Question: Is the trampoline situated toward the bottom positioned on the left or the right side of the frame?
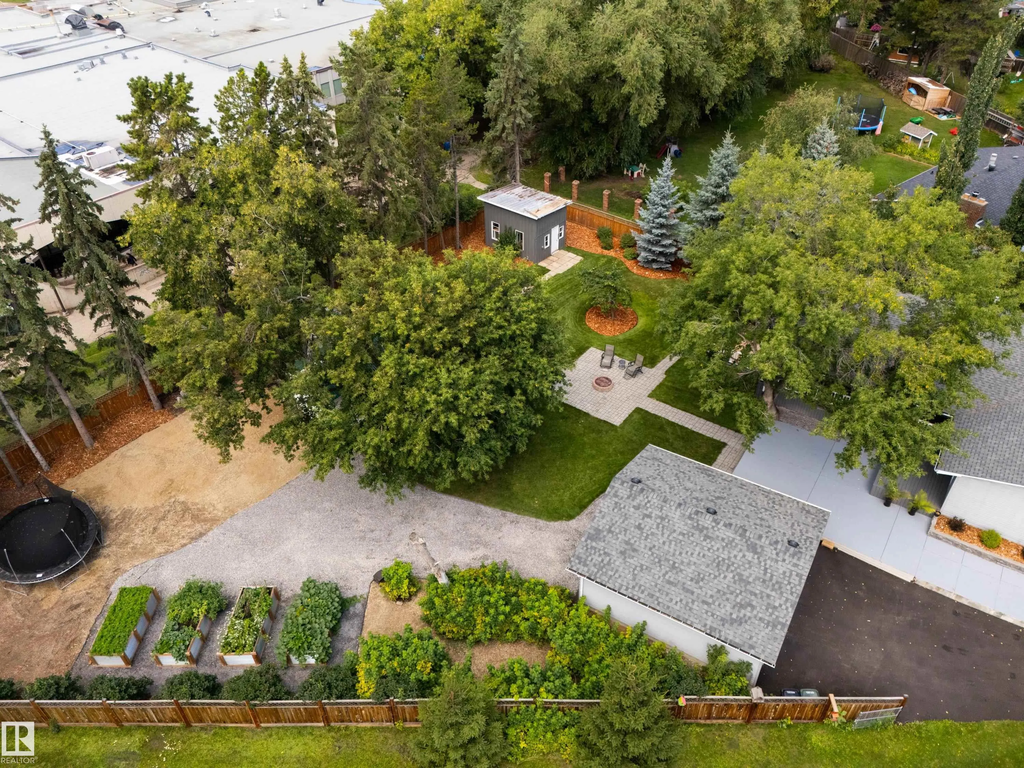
left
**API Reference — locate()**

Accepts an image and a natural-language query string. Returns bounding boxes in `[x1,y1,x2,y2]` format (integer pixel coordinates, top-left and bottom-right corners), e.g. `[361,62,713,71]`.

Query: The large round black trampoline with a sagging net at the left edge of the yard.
[0,476,107,593]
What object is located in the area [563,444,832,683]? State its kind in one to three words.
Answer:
building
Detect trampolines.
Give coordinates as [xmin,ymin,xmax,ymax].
[840,99,889,134]
[0,476,107,593]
